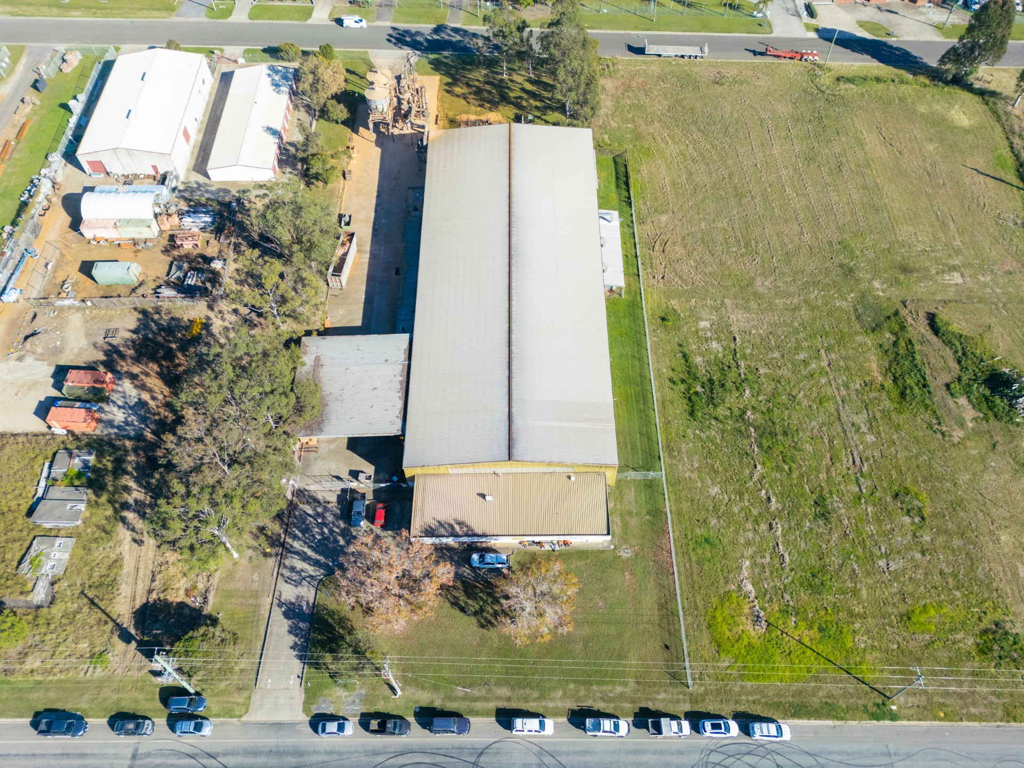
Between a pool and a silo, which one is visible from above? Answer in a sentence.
Looking from above, you can make out a silo.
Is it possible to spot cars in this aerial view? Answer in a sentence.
Yes, the image includes a car.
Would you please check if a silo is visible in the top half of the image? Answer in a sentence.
Yes, there is a silo in the top half of the image.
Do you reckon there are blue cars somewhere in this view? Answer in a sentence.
Yes, you can see a blue car in this photo.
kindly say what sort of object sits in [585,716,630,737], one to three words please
truck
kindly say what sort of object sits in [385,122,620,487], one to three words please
warehouse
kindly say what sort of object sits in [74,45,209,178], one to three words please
shed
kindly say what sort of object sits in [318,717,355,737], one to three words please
car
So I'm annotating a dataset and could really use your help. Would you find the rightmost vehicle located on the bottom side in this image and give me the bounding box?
[748,719,791,740]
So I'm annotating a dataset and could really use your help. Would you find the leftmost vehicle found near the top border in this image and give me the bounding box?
[341,15,367,29]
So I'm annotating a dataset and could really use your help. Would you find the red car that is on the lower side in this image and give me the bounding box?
[373,503,390,531]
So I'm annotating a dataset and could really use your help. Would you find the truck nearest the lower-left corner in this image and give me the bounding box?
[33,714,90,736]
